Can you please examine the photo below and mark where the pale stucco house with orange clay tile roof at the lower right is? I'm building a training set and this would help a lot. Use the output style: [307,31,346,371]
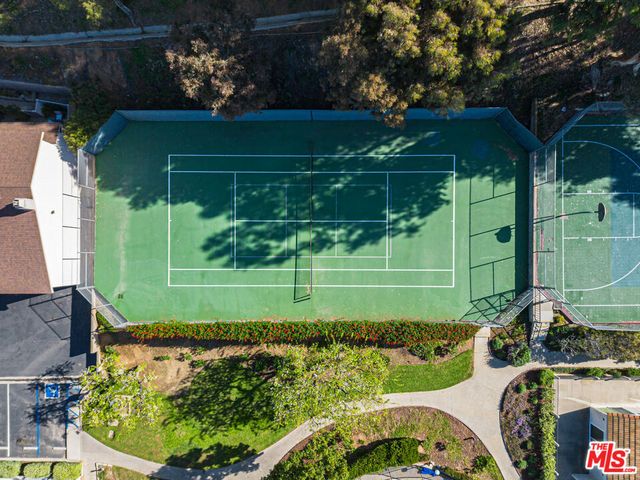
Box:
[566,407,640,480]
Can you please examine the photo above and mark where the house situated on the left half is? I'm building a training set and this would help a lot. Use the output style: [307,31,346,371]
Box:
[0,121,74,296]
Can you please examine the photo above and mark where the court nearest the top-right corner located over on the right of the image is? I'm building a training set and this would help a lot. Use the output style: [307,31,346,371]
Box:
[536,114,640,322]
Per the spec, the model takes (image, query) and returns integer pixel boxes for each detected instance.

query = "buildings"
[0,121,74,296]
[566,407,640,480]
